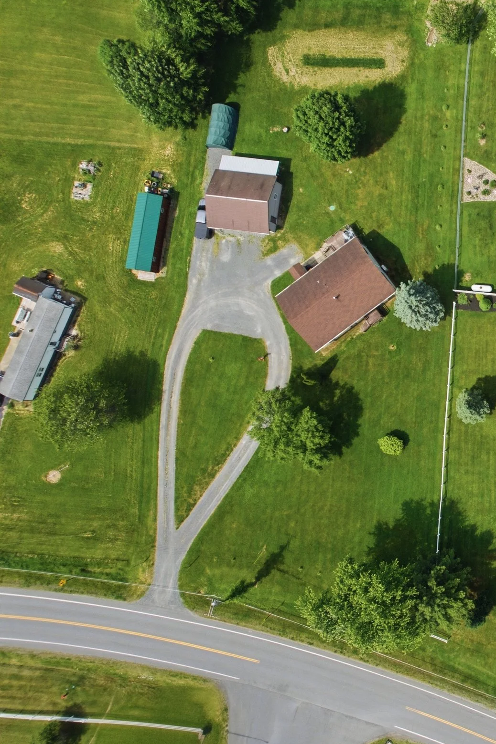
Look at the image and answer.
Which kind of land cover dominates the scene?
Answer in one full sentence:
The largest share of the image is taken up by grass.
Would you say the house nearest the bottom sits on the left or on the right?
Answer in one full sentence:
The house nearest the bottom appears in the left half of the scene.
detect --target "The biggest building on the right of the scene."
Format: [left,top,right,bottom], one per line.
[274,224,397,352]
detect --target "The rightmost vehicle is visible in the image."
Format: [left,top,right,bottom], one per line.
[193,198,215,240]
